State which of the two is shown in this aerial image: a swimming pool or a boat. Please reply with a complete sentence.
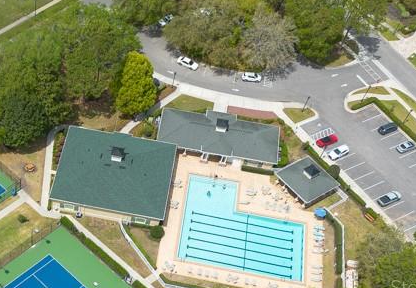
I can see a swimming pool in this picture.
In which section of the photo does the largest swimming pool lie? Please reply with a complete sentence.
Look in the bottom portion of the view to spot the largest swimming pool.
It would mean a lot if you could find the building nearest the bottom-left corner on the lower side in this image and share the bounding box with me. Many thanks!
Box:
[48,127,177,225]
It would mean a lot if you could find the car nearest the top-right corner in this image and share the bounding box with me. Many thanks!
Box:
[376,122,398,137]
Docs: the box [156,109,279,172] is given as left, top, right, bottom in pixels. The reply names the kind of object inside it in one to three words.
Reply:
building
